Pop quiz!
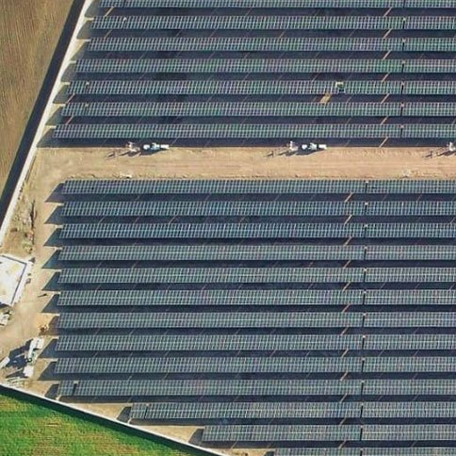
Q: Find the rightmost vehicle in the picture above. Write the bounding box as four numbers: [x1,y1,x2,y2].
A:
[24,336,41,363]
